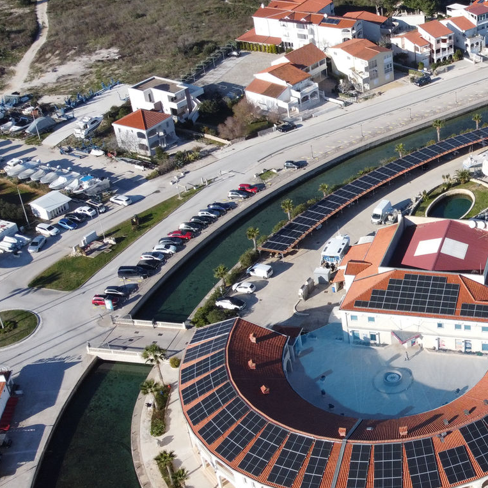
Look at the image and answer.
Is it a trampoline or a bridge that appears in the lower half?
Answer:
bridge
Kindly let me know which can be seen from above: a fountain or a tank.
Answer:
fountain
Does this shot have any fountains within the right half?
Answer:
Yes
